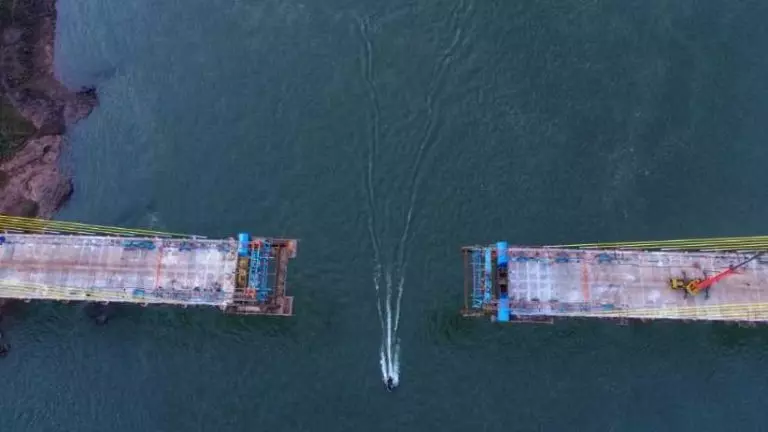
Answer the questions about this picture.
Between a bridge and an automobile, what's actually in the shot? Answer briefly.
bridge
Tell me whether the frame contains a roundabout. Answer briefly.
No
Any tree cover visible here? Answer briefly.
No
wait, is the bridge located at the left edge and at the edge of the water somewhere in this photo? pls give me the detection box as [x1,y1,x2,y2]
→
[0,233,237,308]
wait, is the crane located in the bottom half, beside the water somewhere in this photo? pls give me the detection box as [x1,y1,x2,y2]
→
[671,256,763,300]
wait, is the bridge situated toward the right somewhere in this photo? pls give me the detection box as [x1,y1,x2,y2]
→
[508,246,768,324]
